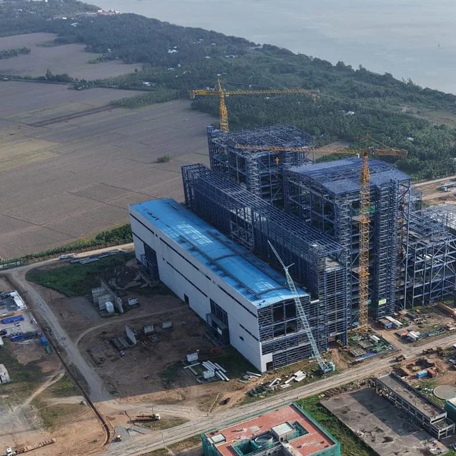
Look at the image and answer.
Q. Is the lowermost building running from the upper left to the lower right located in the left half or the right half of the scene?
right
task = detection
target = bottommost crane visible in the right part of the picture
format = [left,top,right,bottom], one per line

[266,239,338,370]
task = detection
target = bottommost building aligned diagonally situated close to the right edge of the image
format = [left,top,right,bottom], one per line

[375,372,456,440]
